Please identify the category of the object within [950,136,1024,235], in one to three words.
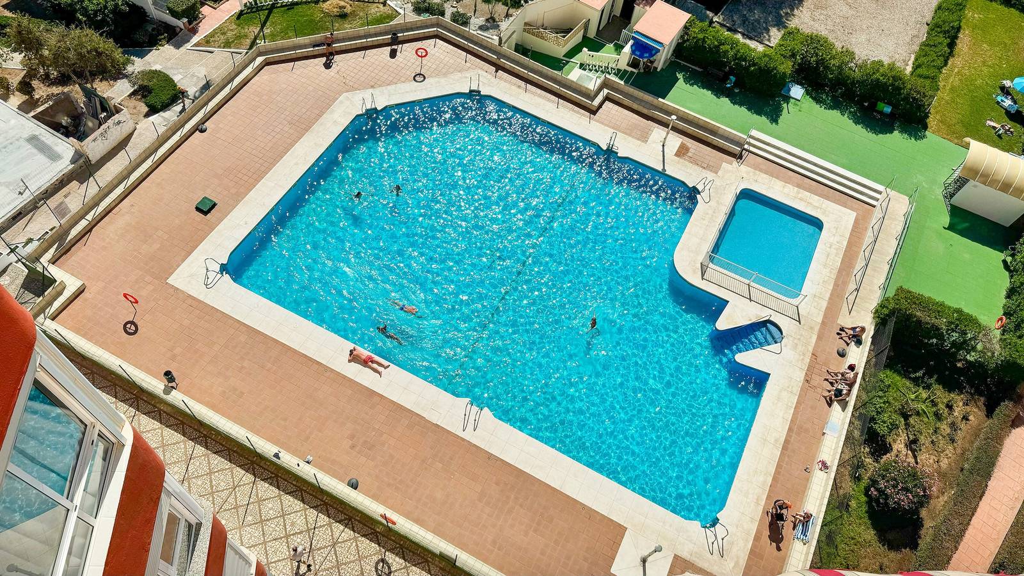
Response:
building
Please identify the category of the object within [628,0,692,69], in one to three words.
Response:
building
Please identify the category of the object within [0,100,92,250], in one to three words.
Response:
shed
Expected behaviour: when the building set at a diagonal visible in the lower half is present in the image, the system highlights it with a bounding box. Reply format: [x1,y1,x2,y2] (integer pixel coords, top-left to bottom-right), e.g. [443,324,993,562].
[0,295,277,576]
